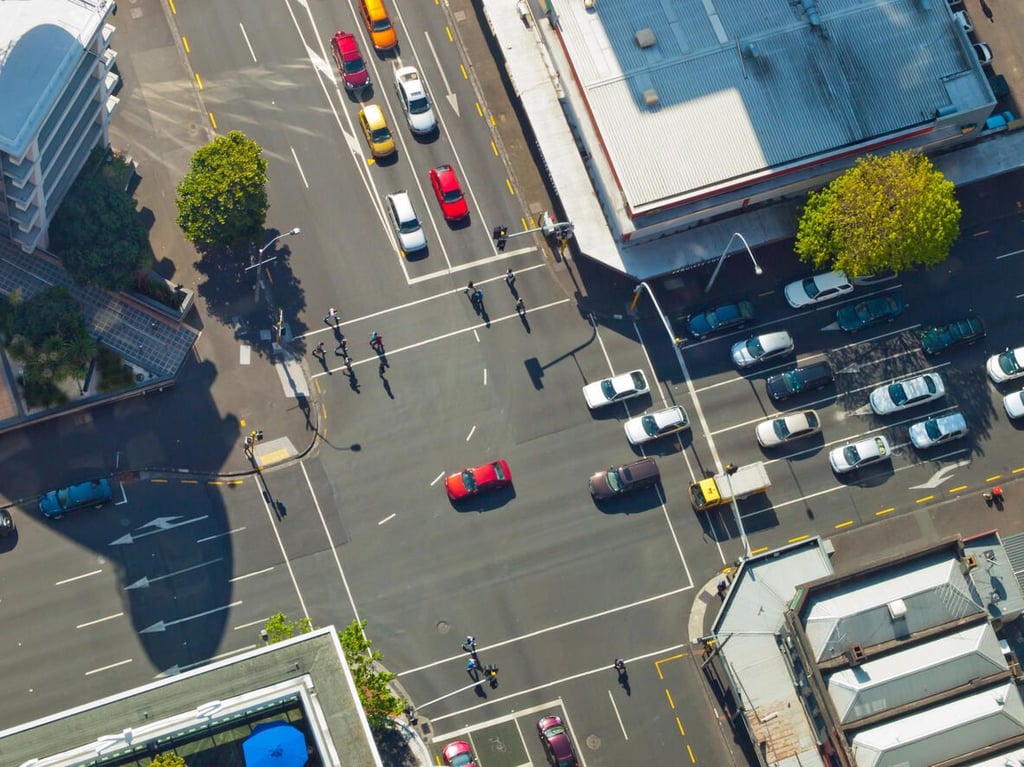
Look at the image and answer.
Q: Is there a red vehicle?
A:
Yes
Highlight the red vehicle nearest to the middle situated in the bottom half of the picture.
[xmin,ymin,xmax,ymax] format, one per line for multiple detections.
[443,456,515,501]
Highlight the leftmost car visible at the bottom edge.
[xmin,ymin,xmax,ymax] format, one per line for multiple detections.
[445,740,479,767]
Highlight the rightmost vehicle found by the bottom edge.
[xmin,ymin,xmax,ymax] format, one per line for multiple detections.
[537,713,581,767]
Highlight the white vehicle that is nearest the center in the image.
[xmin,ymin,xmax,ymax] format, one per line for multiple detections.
[582,368,651,411]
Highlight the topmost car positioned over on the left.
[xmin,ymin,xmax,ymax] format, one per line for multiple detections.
[351,0,396,52]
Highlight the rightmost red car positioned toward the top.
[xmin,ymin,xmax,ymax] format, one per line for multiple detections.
[428,164,467,223]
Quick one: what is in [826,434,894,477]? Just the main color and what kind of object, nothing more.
white car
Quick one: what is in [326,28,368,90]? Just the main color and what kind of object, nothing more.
red car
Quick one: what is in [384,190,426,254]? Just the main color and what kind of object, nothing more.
white car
